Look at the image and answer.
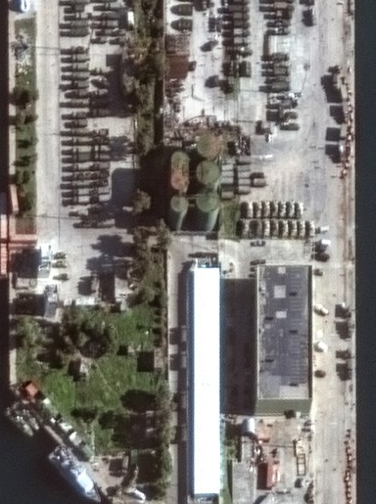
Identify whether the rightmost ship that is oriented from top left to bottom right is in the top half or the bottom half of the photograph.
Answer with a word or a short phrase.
bottom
